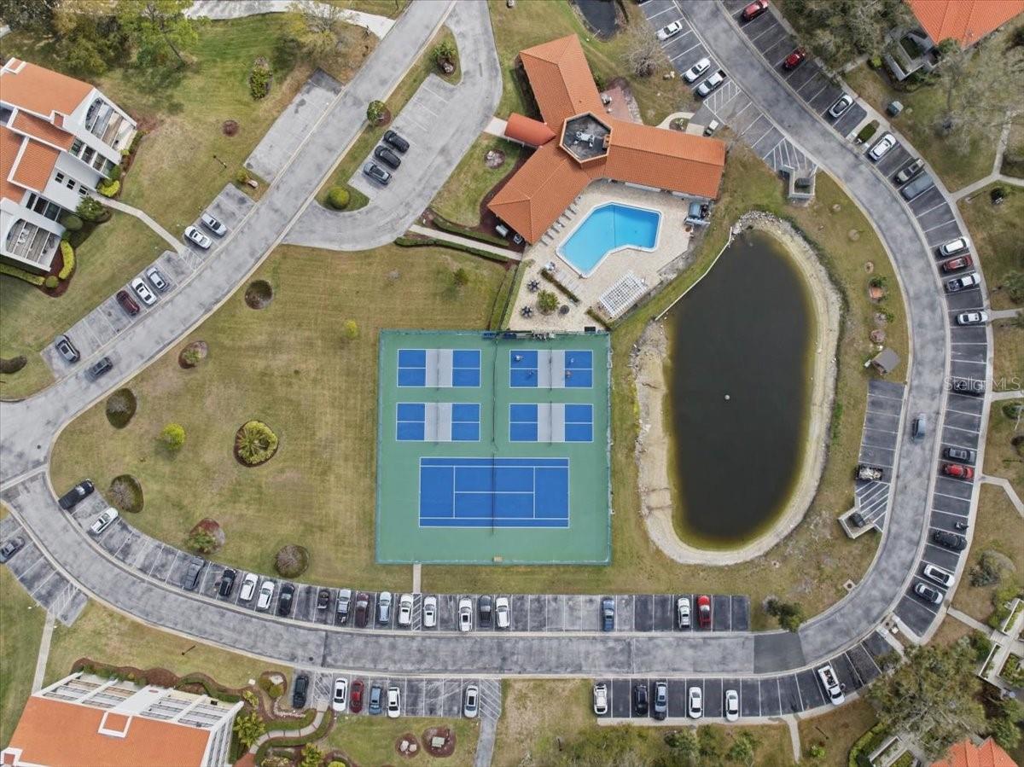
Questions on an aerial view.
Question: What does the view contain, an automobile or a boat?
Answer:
automobile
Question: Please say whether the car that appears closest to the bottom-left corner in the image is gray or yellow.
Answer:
gray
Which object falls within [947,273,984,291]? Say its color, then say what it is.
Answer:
white vehicle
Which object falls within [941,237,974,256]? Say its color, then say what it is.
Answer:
white car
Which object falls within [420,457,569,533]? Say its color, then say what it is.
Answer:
blue tennis court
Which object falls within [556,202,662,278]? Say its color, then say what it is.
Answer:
blue swimming pool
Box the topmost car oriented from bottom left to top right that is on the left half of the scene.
[81,355,112,379]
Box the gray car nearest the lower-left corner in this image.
[0,535,23,561]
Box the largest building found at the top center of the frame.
[487,34,725,244]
